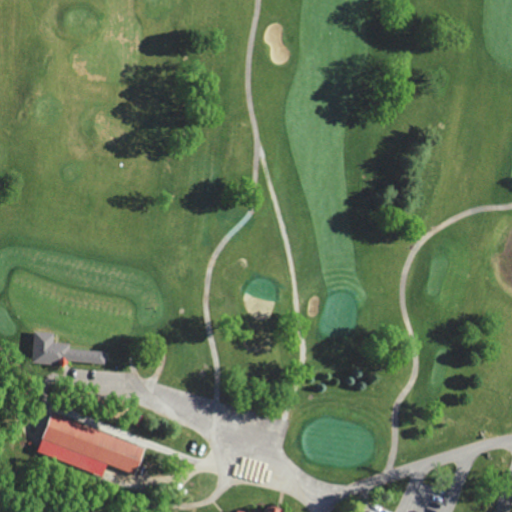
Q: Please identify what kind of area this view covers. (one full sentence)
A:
It's a golf course.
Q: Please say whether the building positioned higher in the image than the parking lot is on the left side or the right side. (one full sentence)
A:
It is on the left.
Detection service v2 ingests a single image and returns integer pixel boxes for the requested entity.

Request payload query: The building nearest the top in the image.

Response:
[32,330,106,368]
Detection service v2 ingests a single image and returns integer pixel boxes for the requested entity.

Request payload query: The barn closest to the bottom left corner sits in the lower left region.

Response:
[36,416,144,481]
